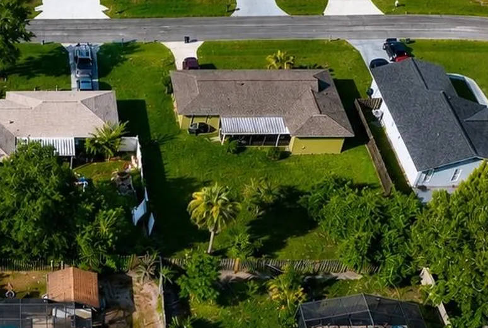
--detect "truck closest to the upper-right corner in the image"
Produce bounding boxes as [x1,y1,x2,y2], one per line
[380,37,411,60]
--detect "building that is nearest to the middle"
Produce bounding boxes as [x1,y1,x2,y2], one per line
[169,70,356,153]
